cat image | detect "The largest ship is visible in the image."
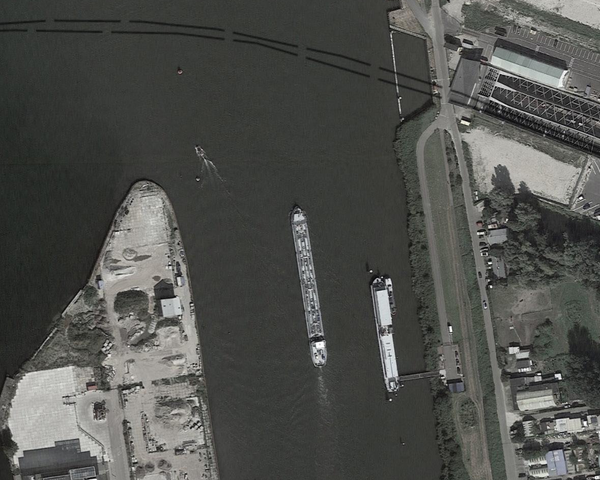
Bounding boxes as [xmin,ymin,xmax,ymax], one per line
[291,207,326,368]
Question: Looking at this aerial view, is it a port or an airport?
port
